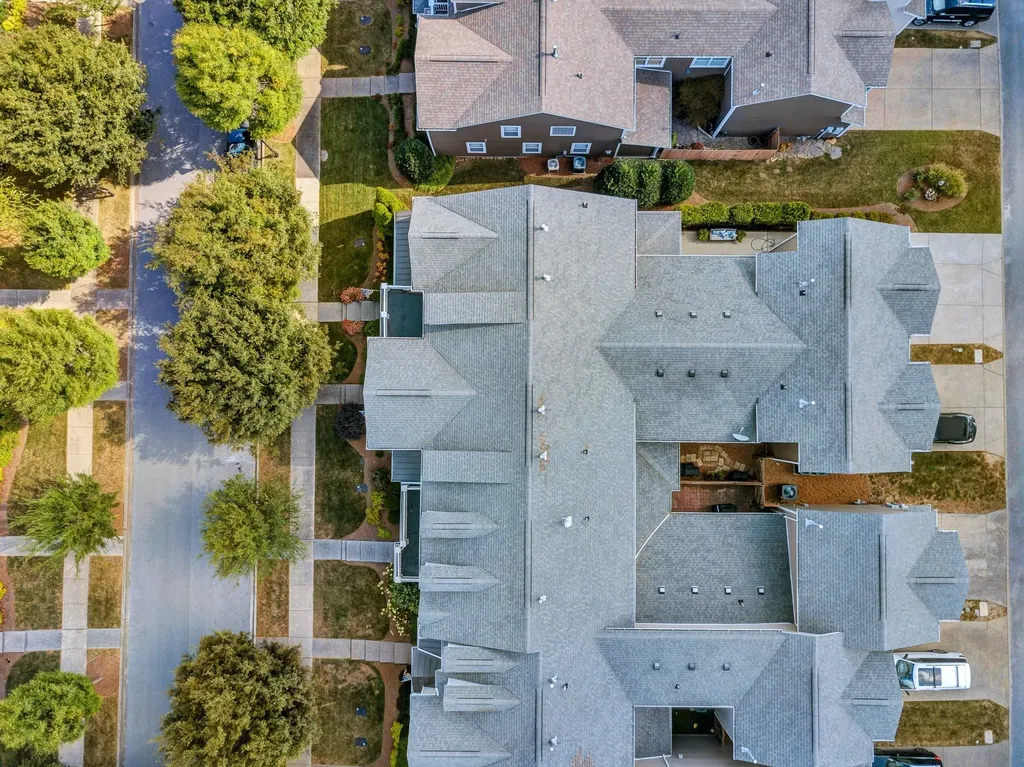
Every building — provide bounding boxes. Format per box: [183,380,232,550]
[361,190,942,654]
[412,0,899,160]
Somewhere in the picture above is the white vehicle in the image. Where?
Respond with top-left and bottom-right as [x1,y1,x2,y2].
[894,649,973,694]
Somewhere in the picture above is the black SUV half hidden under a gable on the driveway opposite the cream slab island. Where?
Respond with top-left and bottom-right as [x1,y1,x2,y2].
[932,412,976,445]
